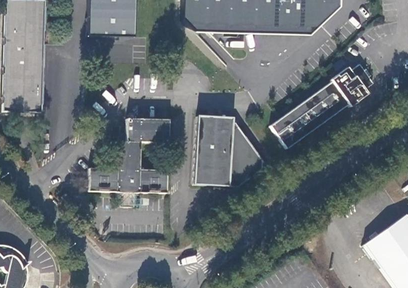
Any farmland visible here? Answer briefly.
No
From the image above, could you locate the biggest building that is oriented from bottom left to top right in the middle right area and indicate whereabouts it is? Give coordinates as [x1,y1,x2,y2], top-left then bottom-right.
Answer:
[268,80,351,150]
